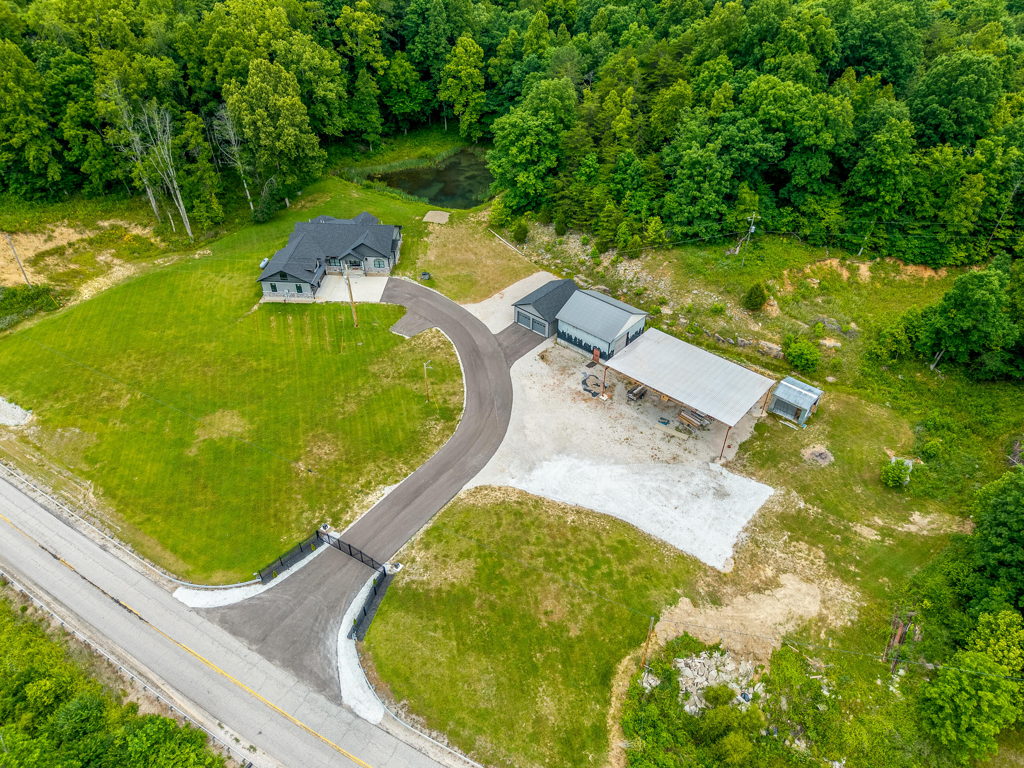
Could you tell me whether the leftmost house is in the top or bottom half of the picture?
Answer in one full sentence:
It is in the top half that the leftmost house appears.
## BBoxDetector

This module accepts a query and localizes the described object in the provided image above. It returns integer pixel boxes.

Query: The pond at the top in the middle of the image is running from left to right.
[369,149,502,206]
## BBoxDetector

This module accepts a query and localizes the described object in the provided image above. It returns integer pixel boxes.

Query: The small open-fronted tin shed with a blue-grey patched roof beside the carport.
[769,377,826,426]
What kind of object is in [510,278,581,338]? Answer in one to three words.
building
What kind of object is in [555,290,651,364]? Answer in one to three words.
barn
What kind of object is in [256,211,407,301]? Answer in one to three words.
house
